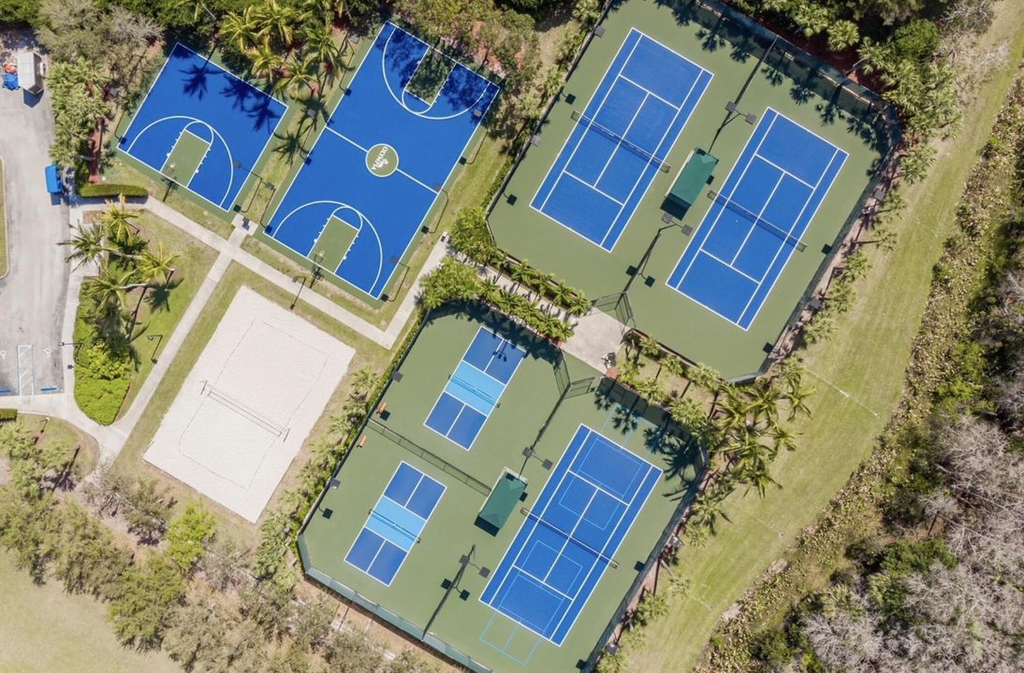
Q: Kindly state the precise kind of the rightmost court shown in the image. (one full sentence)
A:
I'd identify the rightmost court as a tennis court.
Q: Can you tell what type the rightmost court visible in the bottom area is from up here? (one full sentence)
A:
What you see as the rightmost court visible in the bottom area is a tennis court.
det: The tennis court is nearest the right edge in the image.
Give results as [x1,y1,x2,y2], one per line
[665,106,849,331]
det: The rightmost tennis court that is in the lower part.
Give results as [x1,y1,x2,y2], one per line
[479,408,663,663]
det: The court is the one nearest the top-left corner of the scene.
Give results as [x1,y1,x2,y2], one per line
[109,36,300,224]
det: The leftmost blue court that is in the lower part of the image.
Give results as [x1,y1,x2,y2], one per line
[344,461,447,587]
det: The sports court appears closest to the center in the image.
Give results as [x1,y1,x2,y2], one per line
[423,325,527,452]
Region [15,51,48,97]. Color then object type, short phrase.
white trailer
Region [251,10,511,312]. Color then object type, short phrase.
blue basketball court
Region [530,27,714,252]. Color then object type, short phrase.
blue tennis court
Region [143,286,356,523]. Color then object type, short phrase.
white sports court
